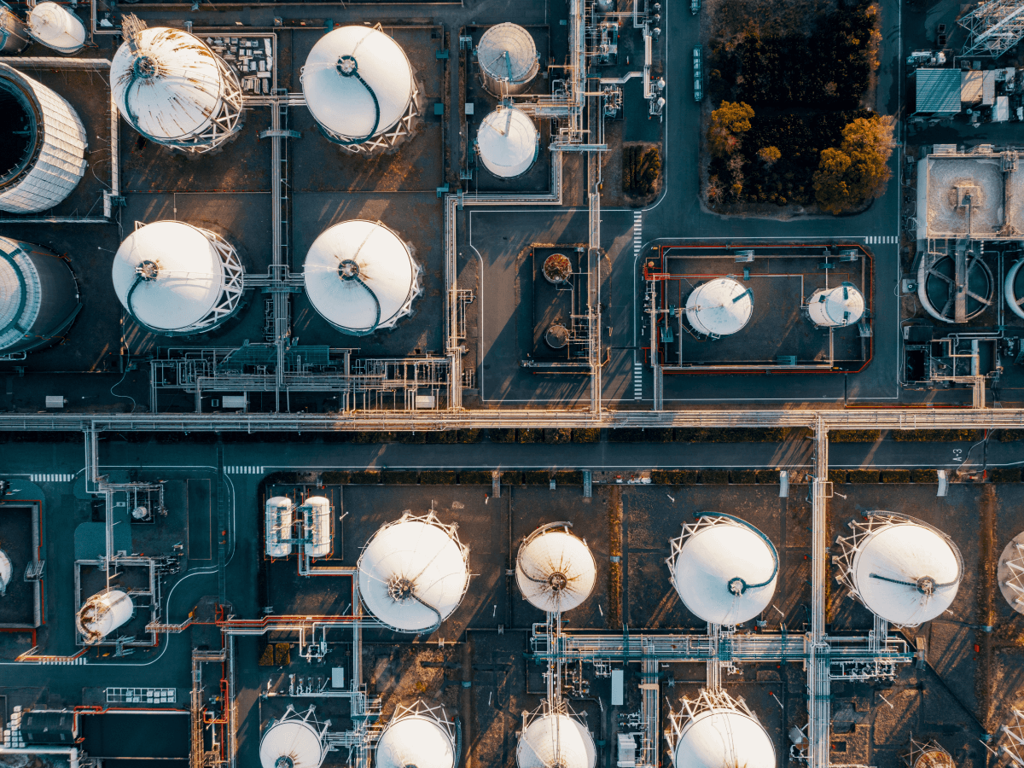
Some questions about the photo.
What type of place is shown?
industrial area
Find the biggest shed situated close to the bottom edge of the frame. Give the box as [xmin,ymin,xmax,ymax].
[22,707,80,740]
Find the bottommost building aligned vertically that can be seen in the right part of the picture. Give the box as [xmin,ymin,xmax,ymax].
[610,665,623,705]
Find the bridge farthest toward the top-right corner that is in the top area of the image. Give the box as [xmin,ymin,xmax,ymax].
[955,240,968,322]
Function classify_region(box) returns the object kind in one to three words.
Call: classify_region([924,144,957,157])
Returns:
shed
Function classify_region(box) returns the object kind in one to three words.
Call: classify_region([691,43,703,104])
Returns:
vehicle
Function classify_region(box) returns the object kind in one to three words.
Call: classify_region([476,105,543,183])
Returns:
storage tank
